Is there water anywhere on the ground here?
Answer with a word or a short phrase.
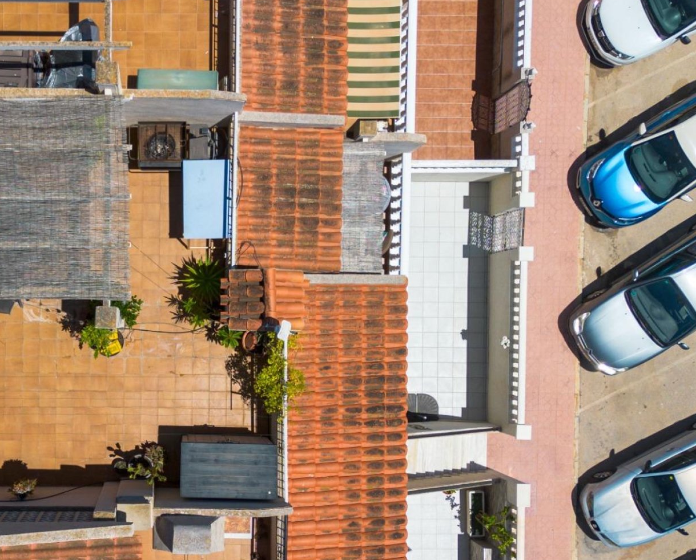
No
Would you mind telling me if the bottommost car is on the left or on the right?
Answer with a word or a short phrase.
right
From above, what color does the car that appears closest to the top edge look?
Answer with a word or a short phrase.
white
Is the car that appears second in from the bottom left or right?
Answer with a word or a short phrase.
right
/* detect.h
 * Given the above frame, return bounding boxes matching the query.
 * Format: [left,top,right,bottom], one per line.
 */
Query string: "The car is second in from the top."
[573,108,696,233]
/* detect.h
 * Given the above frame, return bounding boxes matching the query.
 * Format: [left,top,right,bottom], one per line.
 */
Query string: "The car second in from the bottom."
[563,242,696,381]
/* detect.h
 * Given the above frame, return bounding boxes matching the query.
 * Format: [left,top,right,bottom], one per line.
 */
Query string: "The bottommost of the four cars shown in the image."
[579,436,696,557]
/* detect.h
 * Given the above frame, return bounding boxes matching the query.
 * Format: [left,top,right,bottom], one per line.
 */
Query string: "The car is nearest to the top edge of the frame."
[579,0,696,67]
